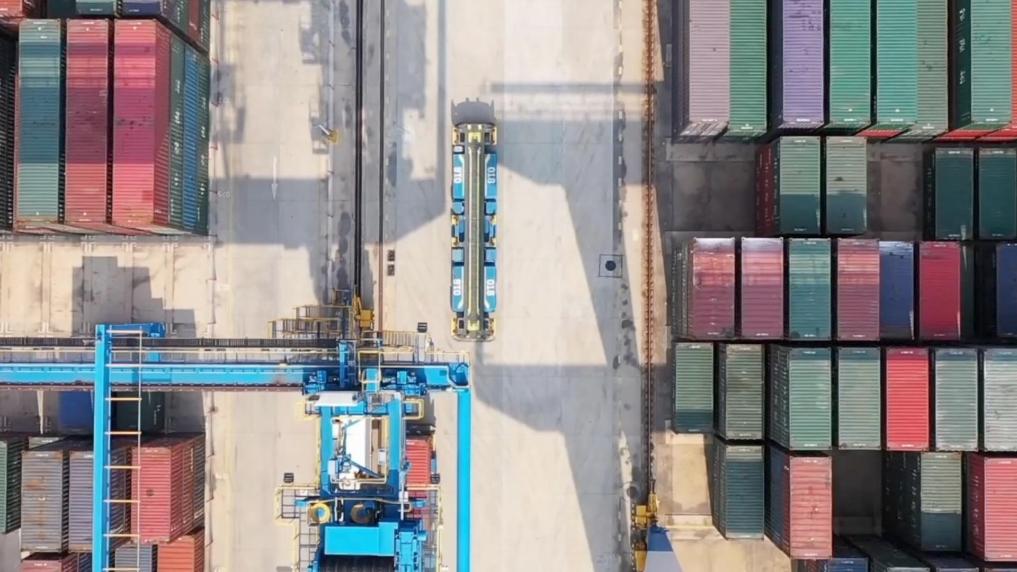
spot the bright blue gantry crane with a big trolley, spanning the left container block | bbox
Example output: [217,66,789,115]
[0,280,471,572]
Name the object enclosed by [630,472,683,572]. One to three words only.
container crane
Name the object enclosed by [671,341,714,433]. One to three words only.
shipping container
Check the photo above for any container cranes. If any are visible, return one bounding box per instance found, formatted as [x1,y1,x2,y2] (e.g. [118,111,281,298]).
[0,280,471,572]
[630,472,683,572]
